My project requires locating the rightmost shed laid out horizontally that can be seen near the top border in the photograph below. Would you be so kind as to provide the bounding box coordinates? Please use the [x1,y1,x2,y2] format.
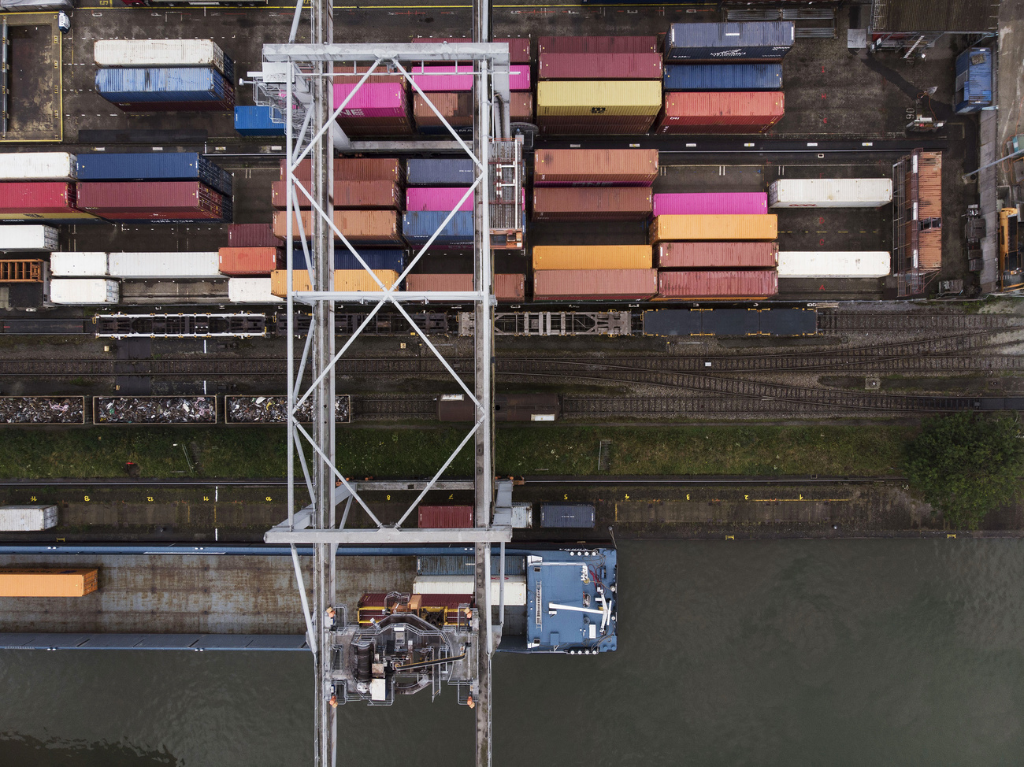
[852,0,999,59]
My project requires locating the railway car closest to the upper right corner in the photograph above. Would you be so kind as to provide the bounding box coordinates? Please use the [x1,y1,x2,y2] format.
[638,309,821,336]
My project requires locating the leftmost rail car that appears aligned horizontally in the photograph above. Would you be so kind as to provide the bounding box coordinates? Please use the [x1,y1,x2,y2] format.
[0,395,93,425]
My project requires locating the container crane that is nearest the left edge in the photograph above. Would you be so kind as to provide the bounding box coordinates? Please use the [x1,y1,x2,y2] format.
[239,0,538,767]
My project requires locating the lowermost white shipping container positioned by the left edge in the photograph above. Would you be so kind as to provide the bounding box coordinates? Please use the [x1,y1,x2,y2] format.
[0,504,58,530]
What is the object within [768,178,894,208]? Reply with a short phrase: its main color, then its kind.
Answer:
white shipping container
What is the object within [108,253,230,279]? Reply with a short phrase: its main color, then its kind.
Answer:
white shipping container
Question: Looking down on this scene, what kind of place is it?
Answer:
port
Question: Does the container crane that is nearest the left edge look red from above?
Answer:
No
